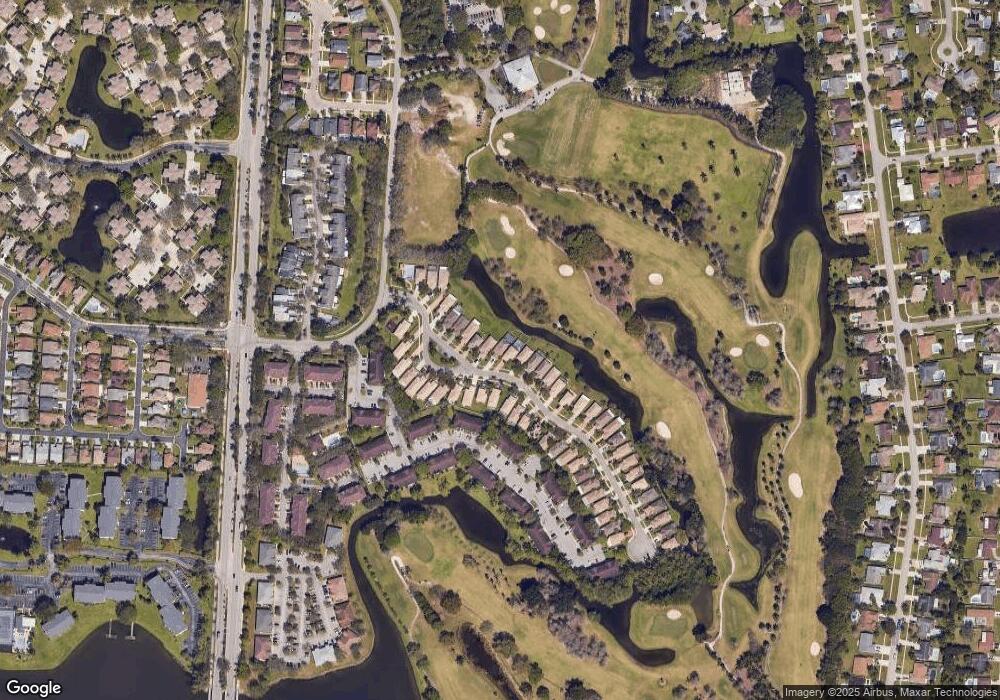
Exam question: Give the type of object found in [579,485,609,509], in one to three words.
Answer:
house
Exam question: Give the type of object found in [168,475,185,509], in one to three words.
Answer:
building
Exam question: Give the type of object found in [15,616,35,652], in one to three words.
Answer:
swimming pool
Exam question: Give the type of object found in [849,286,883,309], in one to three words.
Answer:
house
